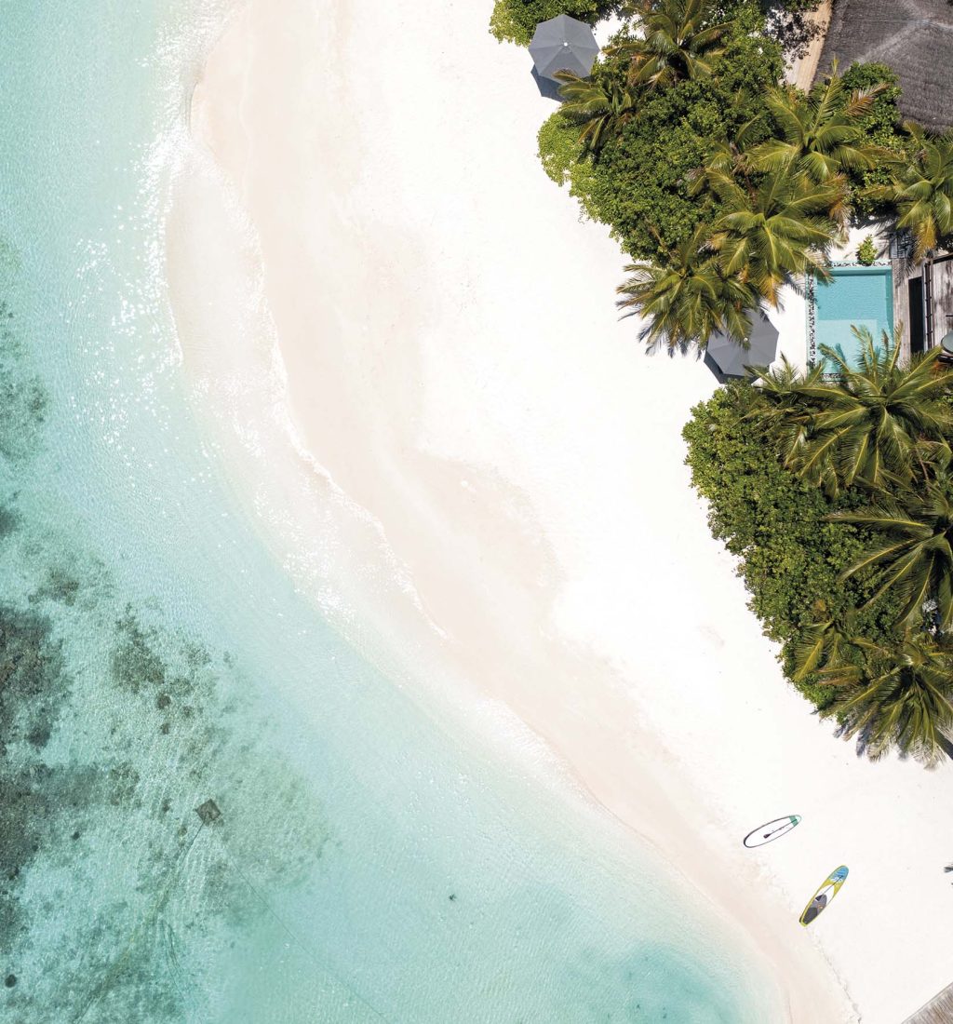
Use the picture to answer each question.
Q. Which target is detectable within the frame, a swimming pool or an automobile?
swimming pool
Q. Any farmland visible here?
No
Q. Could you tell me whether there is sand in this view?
Yes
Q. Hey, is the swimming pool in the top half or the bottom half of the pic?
top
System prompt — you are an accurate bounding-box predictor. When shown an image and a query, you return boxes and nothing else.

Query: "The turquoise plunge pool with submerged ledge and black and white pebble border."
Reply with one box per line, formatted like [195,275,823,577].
[806,260,894,382]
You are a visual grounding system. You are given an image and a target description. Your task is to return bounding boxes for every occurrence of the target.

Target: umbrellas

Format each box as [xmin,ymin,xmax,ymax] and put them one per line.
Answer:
[529,13,600,84]
[708,312,778,381]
